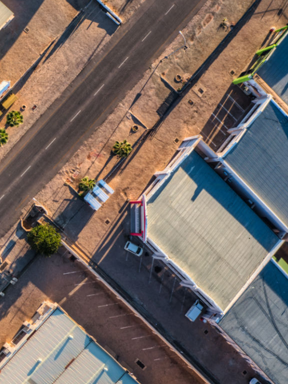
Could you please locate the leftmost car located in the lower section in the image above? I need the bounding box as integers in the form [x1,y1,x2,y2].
[121,239,145,257]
